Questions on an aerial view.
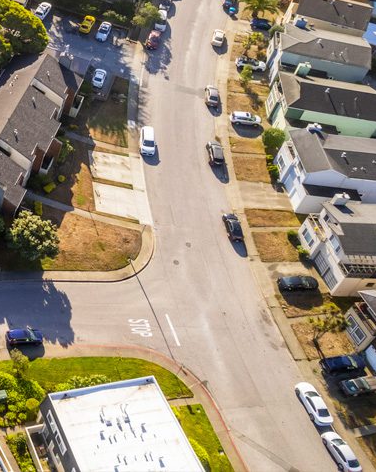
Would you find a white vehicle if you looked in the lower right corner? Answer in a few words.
Yes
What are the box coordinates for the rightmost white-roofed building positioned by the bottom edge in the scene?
[41,376,198,472]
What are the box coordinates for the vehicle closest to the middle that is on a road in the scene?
[221,213,246,243]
